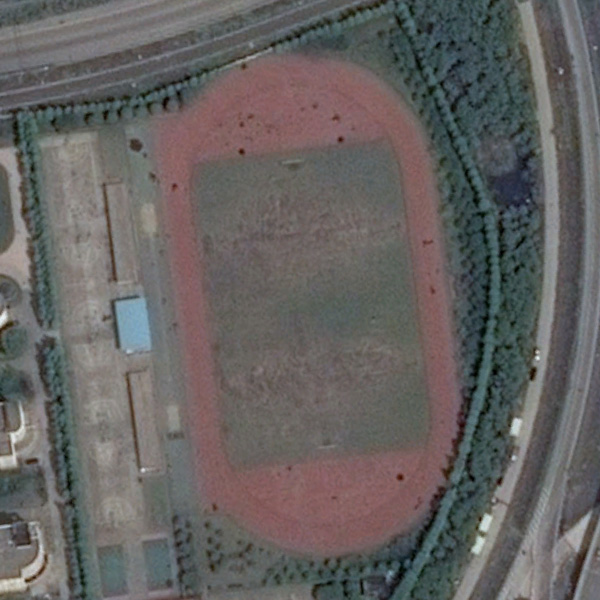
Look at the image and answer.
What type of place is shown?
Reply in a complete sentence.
What you see here is a sports ground.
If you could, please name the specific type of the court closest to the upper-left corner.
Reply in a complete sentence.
I'd say the court closest to the upper-left corner is a basketball court.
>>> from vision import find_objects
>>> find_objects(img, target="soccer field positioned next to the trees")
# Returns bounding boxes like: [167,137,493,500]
[195,138,427,470]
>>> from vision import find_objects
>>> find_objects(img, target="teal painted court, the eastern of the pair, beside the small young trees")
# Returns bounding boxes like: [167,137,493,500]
[138,535,176,595]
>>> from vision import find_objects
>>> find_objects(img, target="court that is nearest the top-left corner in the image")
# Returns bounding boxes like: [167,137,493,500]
[47,143,100,228]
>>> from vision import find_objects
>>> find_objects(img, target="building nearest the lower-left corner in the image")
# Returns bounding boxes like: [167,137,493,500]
[0,523,43,594]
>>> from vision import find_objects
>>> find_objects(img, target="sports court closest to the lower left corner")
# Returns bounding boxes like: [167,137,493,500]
[93,540,131,600]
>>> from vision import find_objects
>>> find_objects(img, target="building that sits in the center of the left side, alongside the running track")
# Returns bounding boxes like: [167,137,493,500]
[115,296,152,357]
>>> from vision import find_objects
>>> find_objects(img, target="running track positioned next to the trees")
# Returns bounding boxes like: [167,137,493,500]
[152,55,460,556]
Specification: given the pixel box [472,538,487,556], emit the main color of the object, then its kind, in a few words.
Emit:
white vehicle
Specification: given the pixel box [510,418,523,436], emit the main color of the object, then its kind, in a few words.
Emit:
white vehicle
